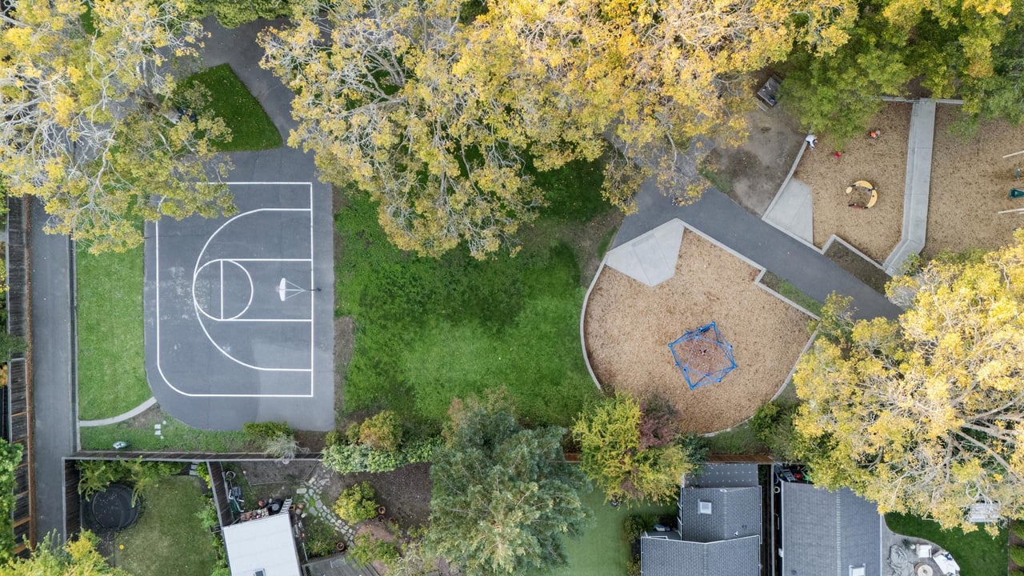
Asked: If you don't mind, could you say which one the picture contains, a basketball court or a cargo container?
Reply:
basketball court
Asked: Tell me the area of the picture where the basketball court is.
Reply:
left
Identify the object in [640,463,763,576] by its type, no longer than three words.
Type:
house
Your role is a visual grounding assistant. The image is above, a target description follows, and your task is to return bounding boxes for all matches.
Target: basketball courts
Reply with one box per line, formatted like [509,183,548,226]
[145,149,334,431]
